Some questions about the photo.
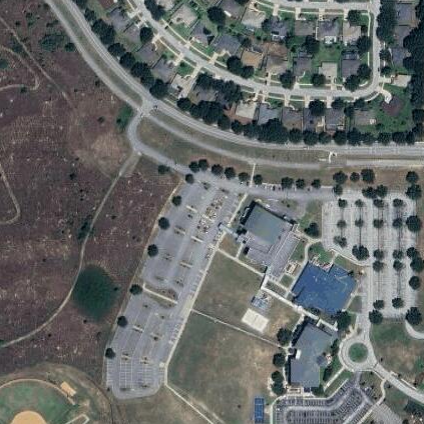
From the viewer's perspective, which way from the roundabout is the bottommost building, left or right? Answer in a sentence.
Looking at the picture, you'll find the bottommost building to the left of the roundabout.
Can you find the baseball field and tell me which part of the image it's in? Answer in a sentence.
The baseball field sits in the bottom left section of the image.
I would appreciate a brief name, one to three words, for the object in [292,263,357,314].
building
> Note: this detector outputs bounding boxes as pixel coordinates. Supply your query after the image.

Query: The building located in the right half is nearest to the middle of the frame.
[235,203,300,278]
